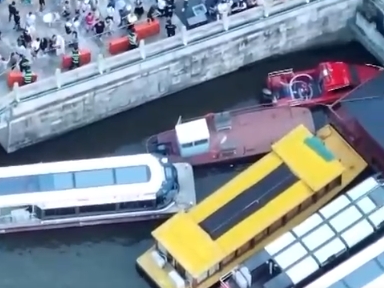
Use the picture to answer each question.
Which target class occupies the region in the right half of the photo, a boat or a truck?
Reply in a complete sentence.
What appears in the right half of the photo is a boat.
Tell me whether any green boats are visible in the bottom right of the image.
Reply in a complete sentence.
No, I can find no green boat in the bottom right of the image.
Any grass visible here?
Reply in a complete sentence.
No, the scene doesn't show any grass.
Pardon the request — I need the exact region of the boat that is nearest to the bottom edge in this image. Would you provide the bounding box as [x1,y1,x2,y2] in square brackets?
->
[308,234,384,288]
